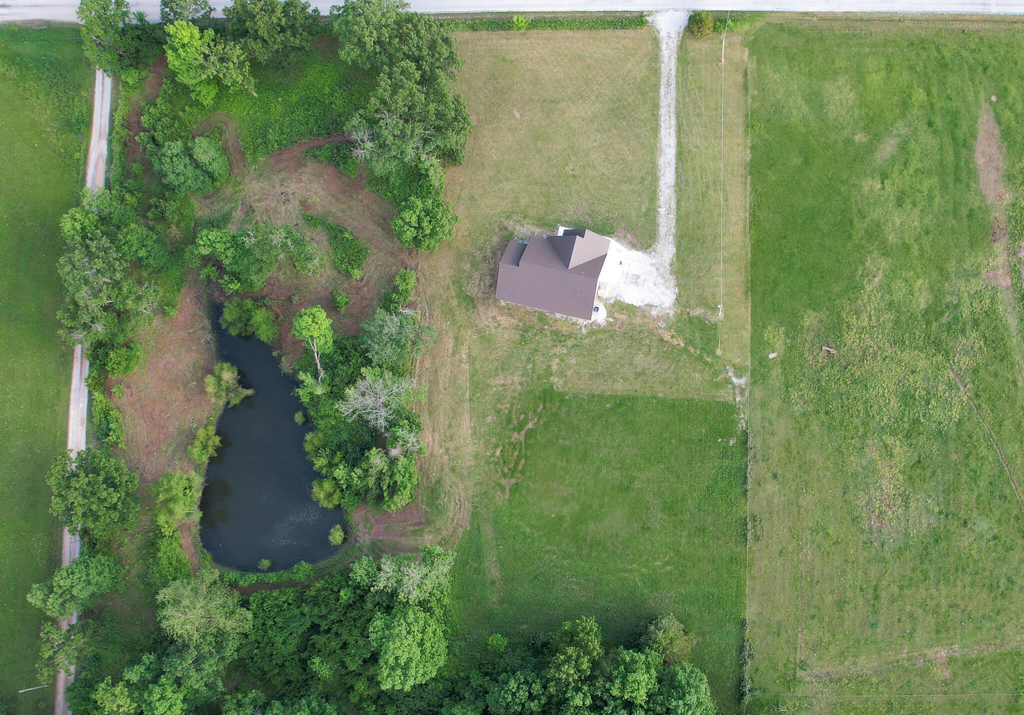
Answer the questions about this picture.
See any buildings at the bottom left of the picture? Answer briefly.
No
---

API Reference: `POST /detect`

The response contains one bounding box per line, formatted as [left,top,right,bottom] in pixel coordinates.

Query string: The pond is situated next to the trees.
[202,300,348,572]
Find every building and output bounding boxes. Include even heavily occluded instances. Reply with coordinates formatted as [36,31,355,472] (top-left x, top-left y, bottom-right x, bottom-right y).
[496,226,615,327]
